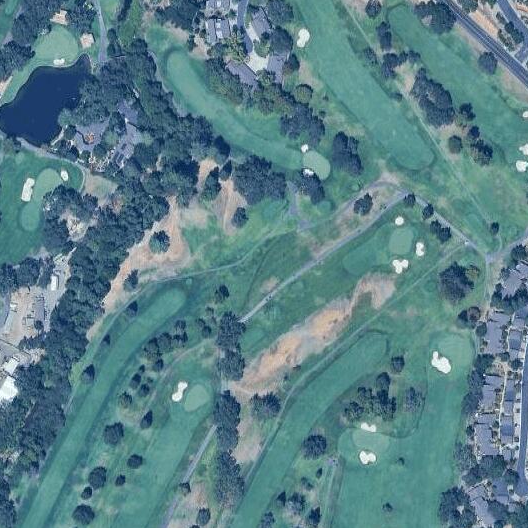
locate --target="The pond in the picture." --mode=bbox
[0,55,98,146]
